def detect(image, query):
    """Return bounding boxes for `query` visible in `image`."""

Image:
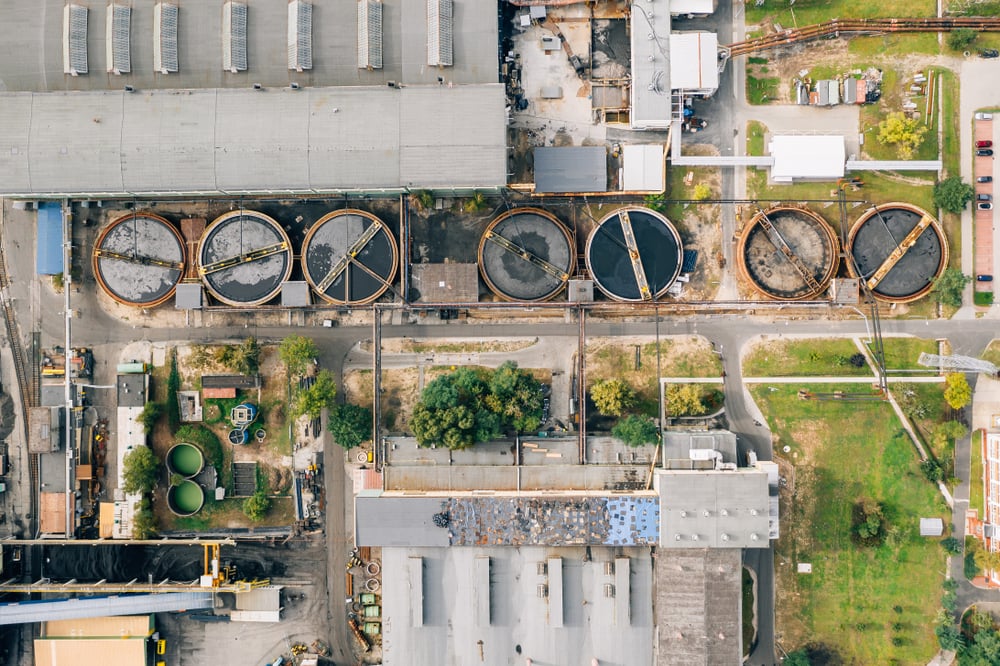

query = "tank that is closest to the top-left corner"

[92,198,187,307]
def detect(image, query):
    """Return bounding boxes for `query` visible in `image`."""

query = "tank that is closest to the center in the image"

[479,192,577,303]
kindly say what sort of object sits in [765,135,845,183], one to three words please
shed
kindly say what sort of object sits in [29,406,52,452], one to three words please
shed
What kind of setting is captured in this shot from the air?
industrial area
